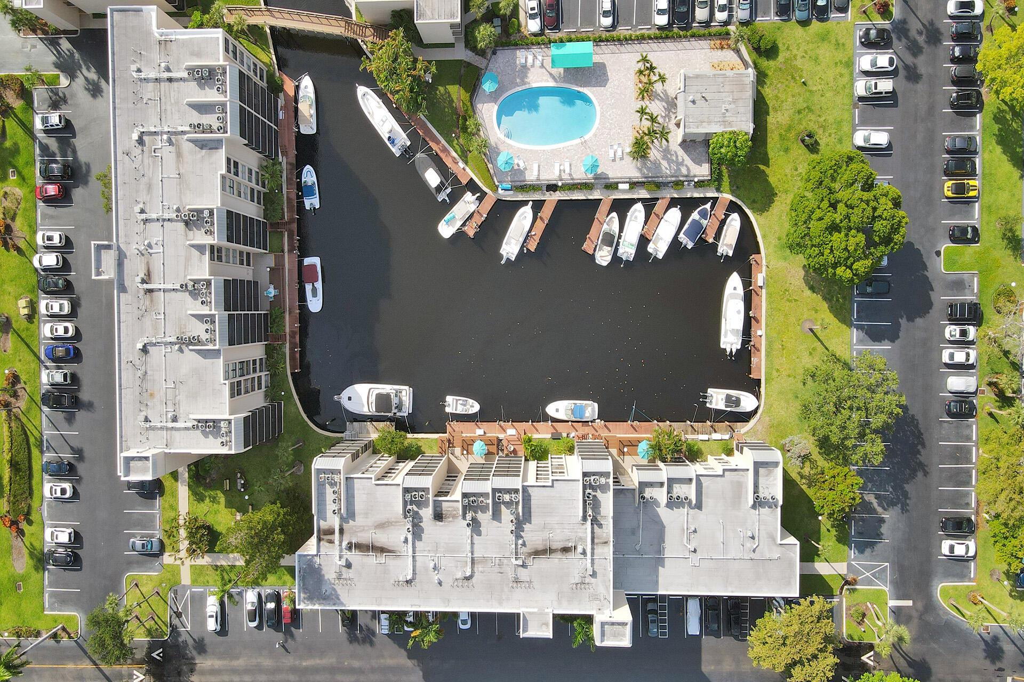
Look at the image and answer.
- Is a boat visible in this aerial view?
Yes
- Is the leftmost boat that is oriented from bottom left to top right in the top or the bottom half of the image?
top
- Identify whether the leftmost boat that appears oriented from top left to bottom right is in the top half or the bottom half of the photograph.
top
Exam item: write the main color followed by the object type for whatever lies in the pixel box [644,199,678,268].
white boat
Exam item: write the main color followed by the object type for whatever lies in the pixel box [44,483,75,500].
white car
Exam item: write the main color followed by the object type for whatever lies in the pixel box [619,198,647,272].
white boat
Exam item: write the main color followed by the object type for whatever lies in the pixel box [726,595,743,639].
black vehicle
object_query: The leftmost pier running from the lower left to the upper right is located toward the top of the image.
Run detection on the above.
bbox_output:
[464,193,497,238]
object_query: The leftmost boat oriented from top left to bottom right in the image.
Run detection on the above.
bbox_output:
[353,79,412,166]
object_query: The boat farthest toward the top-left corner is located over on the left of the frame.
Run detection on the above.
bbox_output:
[298,74,317,135]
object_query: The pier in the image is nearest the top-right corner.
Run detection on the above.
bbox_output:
[704,196,736,241]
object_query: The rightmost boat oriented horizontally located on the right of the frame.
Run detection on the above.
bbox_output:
[694,387,759,413]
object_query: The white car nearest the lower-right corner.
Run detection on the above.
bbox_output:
[941,540,975,558]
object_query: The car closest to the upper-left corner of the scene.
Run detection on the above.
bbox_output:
[36,113,68,131]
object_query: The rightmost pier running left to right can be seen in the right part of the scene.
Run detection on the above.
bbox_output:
[654,422,749,434]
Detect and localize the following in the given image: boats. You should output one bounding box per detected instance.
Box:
[644,199,678,268]
[498,200,532,272]
[303,257,324,312]
[353,79,412,166]
[694,387,759,413]
[546,400,599,421]
[718,213,742,266]
[302,164,321,219]
[438,395,481,414]
[441,185,485,237]
[677,197,713,256]
[619,198,647,272]
[419,154,451,211]
[298,74,317,135]
[332,385,414,416]
[593,212,621,270]
[719,272,746,363]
